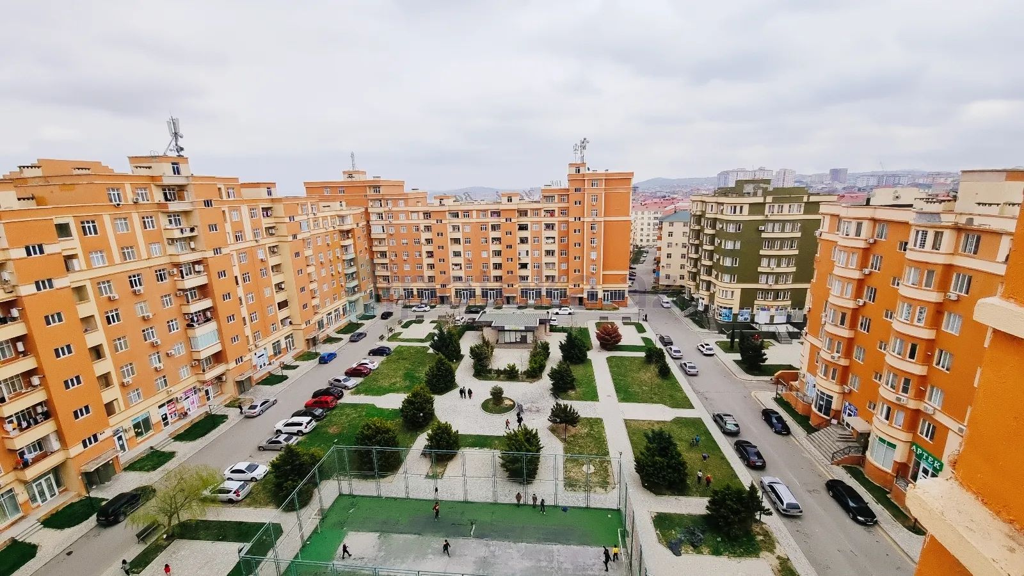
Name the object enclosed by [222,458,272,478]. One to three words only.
car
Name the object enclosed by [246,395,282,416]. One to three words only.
car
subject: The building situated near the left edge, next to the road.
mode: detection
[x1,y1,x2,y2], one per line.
[0,154,382,551]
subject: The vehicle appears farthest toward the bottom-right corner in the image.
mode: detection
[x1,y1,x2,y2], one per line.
[823,475,879,522]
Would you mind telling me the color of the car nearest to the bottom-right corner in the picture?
black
